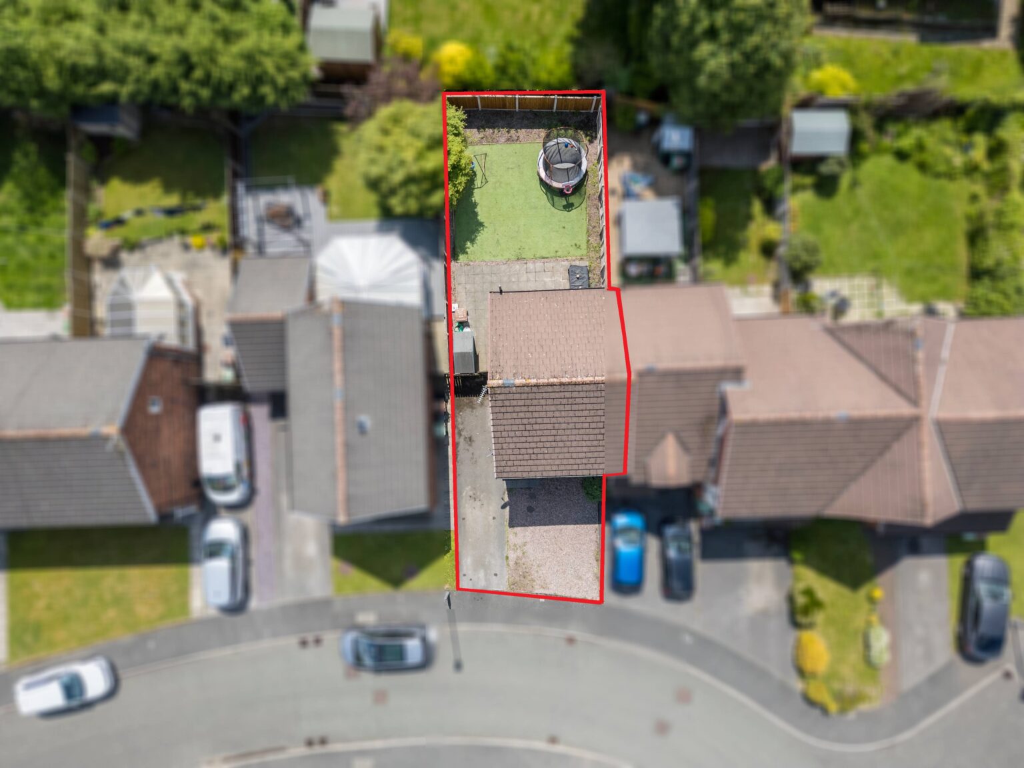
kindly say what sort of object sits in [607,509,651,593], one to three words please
car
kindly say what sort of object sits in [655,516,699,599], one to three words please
car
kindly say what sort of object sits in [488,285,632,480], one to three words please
house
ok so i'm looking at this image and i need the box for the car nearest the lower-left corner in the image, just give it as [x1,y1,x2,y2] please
[14,655,118,714]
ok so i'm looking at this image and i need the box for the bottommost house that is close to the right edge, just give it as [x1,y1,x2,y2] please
[689,311,1024,529]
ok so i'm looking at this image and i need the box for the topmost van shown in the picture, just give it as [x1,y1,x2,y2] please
[201,407,253,509]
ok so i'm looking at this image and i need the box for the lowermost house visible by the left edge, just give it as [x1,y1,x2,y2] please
[0,334,205,530]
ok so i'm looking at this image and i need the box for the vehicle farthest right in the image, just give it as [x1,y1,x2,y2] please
[952,552,1012,659]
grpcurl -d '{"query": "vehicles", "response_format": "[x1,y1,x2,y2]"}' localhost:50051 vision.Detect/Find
[952,552,1012,659]
[341,624,437,673]
[607,509,651,593]
[199,517,249,613]
[655,516,699,599]
[14,655,118,714]
[201,407,253,509]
